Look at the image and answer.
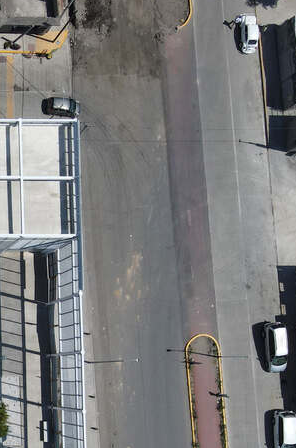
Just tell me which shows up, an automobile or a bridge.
automobile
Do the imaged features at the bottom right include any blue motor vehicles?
No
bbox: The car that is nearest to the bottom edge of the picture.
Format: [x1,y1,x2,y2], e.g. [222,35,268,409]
[266,411,296,448]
